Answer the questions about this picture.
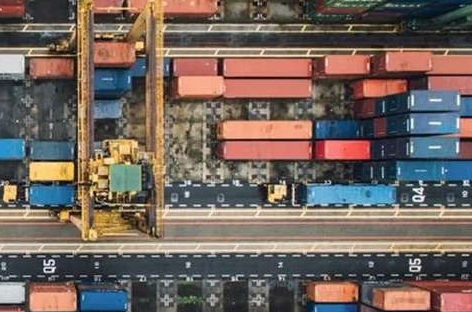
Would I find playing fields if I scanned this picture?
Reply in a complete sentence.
No, no playing field is visible in the scene.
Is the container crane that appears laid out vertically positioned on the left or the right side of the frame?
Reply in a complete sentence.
It is on the left.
